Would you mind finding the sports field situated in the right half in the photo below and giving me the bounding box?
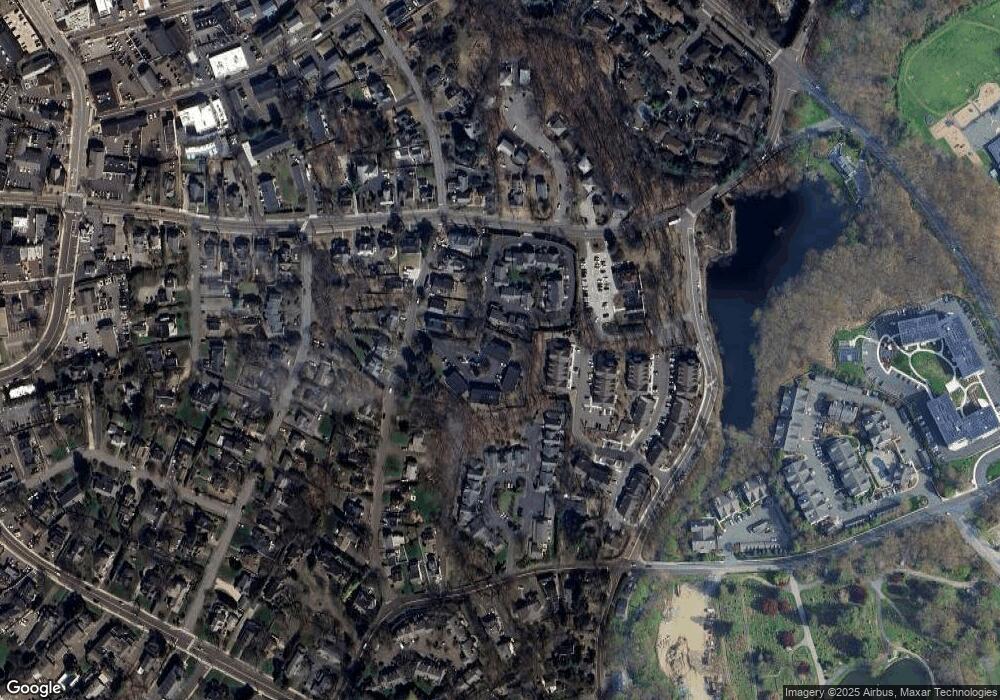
[897,0,1000,188]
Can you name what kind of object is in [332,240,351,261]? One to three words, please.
house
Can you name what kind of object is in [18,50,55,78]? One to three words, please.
building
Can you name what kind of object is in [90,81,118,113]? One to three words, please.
building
